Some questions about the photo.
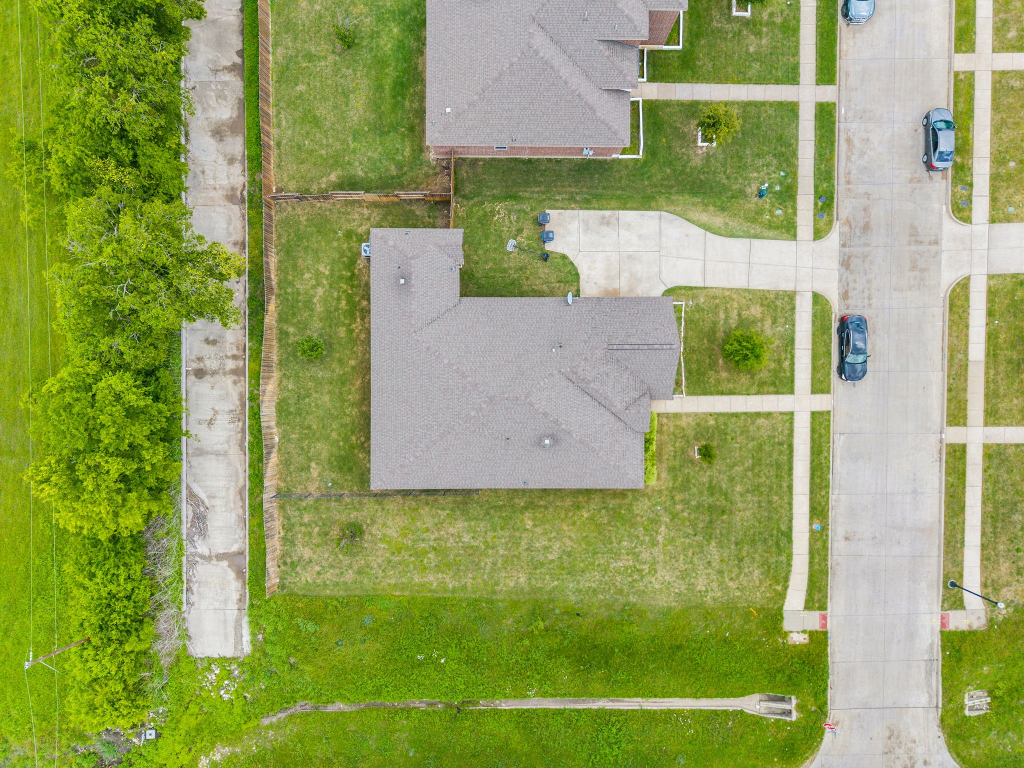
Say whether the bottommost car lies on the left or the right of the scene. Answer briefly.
right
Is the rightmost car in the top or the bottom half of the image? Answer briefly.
top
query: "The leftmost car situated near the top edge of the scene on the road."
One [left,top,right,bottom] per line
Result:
[841,0,876,27]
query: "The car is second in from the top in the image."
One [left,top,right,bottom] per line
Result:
[921,109,959,173]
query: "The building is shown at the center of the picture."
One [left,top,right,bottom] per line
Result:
[370,227,683,490]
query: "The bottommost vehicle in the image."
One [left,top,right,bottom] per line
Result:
[835,314,871,381]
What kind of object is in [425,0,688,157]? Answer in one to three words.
house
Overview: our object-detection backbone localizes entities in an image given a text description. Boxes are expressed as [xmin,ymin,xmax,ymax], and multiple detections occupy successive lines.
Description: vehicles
[921,109,959,173]
[835,314,871,381]
[841,0,876,27]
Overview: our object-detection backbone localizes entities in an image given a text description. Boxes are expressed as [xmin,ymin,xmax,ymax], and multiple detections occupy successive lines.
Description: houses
[370,227,683,490]
[425,0,688,157]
